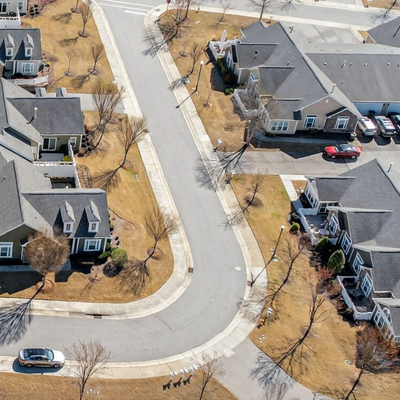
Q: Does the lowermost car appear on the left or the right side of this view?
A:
left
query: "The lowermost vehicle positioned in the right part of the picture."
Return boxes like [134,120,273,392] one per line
[324,141,366,158]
